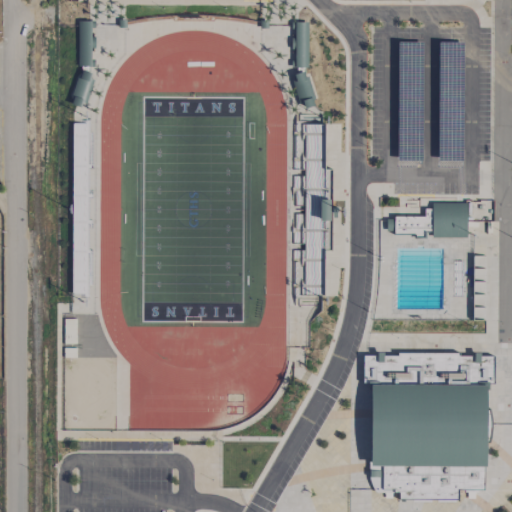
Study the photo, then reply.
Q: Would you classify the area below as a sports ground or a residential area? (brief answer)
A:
sports ground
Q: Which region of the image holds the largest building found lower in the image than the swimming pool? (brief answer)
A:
bottom right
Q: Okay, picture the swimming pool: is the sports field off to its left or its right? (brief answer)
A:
to the left of it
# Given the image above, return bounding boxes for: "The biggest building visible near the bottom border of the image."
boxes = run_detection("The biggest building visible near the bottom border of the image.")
[364,353,496,500]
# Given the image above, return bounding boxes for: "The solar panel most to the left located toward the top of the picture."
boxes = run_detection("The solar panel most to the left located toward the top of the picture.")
[400,42,425,160]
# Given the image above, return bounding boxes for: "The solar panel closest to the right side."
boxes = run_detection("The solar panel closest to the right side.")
[440,42,465,160]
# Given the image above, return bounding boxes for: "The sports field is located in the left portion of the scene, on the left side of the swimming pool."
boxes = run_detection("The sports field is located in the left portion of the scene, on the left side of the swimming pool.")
[122,92,267,327]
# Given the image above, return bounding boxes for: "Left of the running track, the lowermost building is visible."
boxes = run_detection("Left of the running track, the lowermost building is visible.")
[72,69,96,107]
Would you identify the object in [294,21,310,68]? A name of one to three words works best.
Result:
building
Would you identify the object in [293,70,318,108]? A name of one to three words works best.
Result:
building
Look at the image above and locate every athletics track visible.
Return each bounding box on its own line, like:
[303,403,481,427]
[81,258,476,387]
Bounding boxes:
[101,31,288,428]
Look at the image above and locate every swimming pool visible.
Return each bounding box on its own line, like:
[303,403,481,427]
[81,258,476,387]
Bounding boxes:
[397,248,444,310]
